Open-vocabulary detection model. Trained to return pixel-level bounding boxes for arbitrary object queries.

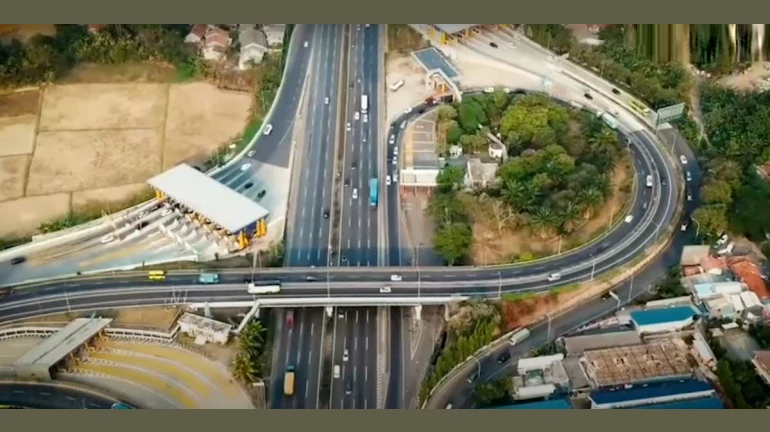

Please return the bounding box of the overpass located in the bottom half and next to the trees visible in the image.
[190,264,459,313]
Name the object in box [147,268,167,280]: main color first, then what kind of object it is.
yellow vehicle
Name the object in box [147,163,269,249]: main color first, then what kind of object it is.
white toll station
